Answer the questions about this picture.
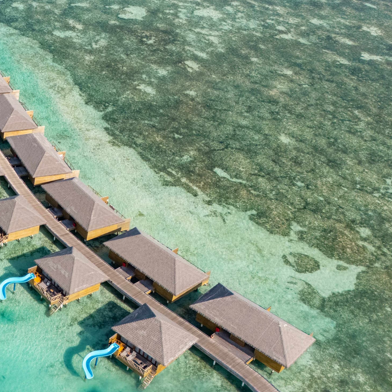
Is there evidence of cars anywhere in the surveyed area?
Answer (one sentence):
No, I find no car anywhere in the image.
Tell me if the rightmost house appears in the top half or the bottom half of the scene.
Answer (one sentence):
It is in the bottom half that the rightmost house appears.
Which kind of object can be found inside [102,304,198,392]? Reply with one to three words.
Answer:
house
